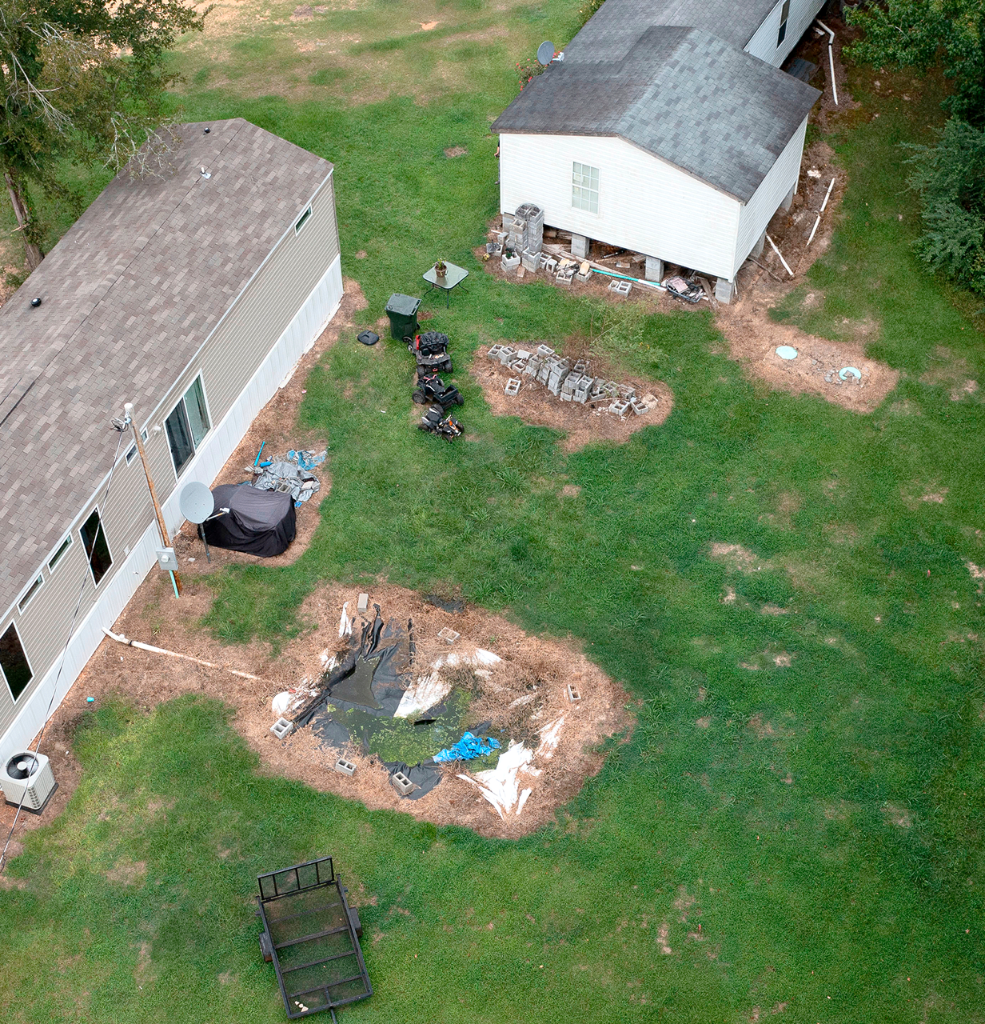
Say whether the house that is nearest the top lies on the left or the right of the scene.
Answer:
right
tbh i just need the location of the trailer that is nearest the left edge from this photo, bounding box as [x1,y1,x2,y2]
[256,859,372,1024]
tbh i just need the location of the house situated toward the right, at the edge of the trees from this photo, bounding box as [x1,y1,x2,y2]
[489,0,829,284]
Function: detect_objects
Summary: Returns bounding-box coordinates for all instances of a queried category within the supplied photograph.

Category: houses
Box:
[0,118,345,774]
[489,0,829,284]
